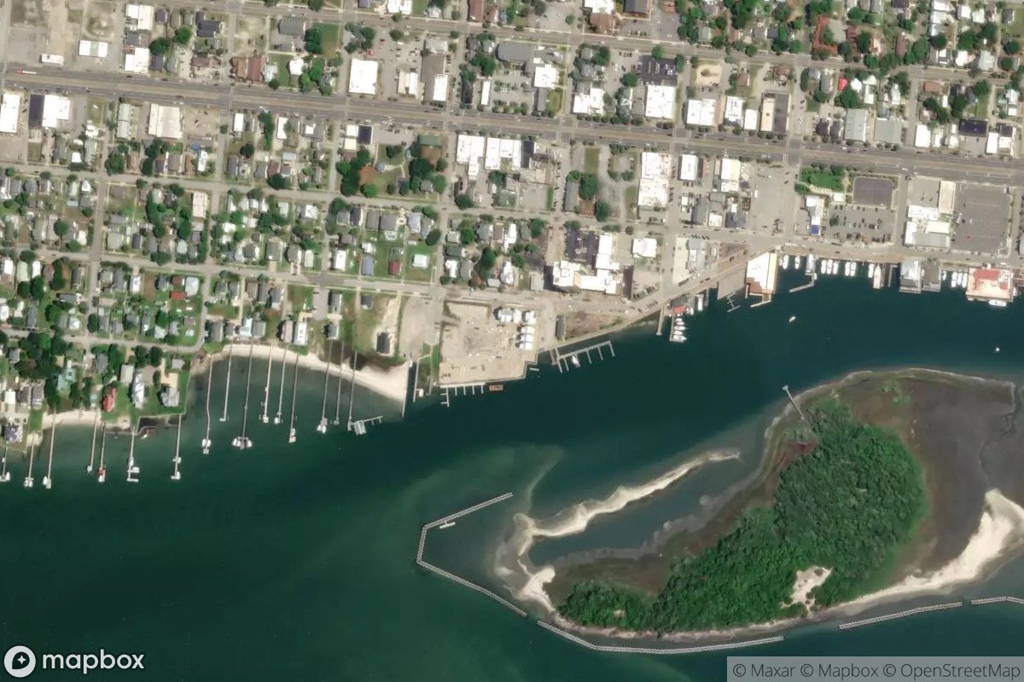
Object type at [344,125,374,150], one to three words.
building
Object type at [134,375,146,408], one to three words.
house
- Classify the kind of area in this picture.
residential area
